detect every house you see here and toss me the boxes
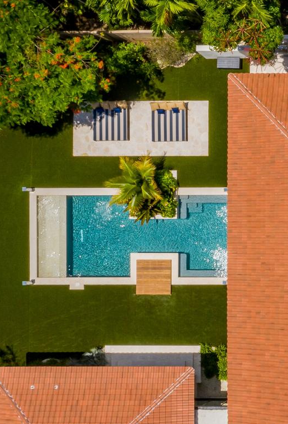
[0,365,198,424]
[225,70,288,424]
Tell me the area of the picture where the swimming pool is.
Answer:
center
